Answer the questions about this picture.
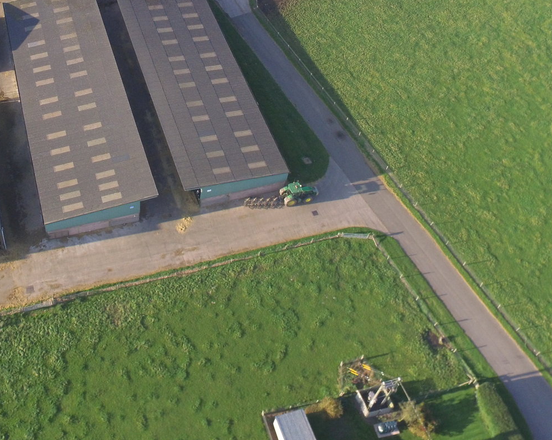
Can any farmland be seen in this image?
Yes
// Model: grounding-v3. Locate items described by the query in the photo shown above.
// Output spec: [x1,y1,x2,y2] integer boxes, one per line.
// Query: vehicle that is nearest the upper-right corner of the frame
[278,183,315,208]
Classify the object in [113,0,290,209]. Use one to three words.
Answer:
shed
